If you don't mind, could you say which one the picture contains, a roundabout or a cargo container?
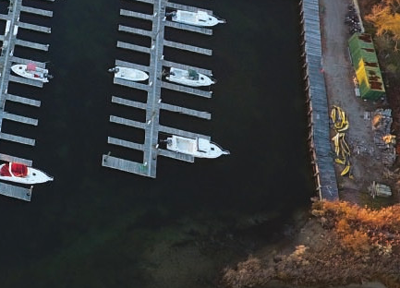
cargo container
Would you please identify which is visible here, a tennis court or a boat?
boat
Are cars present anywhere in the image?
No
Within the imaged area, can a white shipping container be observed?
No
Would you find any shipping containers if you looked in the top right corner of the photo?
Yes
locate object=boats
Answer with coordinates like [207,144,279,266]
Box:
[168,7,227,27]
[0,162,58,184]
[166,67,220,85]
[8,61,54,82]
[163,135,235,158]
[113,66,149,80]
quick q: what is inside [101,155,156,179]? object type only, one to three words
pier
